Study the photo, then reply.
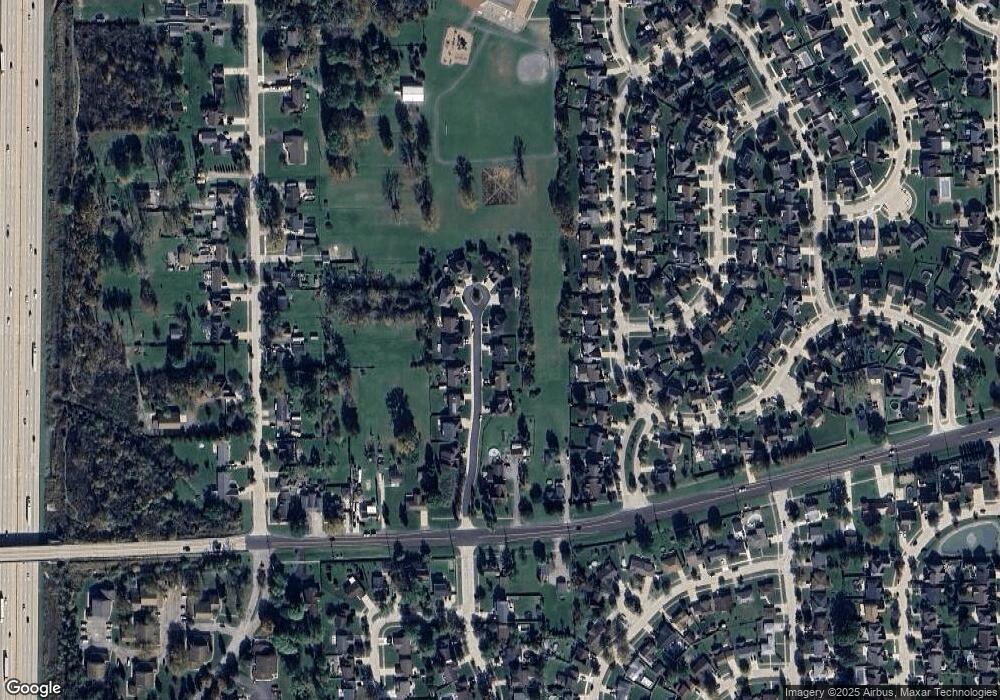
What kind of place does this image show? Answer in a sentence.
It's a residential area.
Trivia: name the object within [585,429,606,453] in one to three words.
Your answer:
house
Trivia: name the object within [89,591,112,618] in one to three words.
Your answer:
building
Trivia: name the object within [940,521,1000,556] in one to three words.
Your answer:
pond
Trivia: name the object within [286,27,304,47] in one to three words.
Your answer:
house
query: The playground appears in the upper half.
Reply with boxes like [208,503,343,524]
[441,27,473,65]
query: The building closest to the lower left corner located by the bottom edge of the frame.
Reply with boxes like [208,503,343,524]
[86,646,107,677]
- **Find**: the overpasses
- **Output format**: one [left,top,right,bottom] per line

[0,538,246,559]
